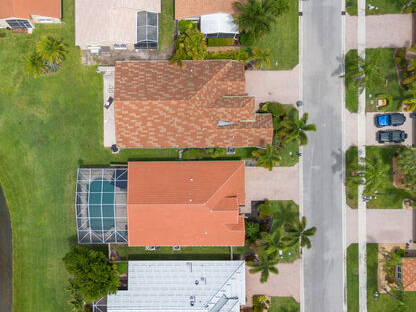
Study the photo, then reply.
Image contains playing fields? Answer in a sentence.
No, there appears to be no playing field in this shot.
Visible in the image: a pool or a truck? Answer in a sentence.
This aerial view contains a pool.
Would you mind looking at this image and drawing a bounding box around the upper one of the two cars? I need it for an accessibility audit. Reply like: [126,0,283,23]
[375,112,404,126]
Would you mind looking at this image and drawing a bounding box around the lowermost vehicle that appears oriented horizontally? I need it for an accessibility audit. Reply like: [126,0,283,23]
[375,129,408,143]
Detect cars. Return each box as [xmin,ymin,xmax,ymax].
[375,112,404,126]
[375,129,408,143]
